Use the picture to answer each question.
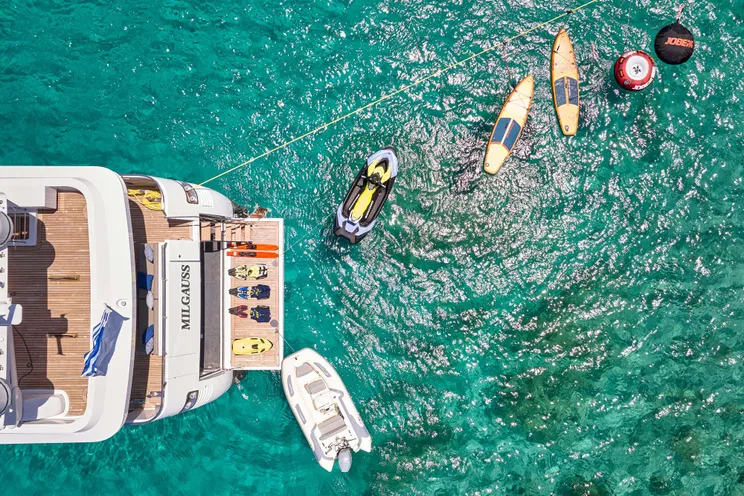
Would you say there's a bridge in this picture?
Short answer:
No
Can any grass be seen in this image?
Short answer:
No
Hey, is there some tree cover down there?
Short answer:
No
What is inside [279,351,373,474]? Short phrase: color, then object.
white boat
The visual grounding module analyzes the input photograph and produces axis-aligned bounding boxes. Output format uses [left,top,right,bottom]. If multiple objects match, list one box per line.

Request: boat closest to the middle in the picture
[333,149,397,244]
